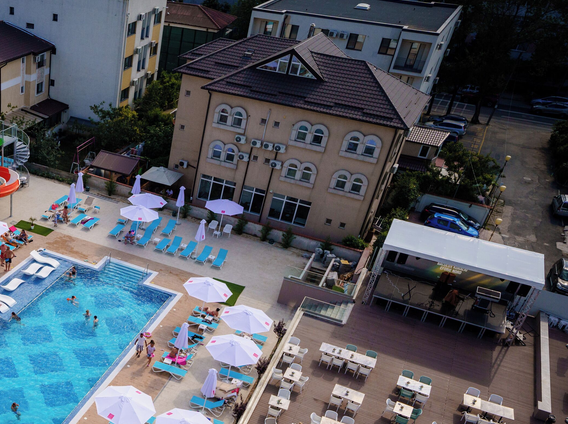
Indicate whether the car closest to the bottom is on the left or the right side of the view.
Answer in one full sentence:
The car closest to the bottom appears in the right half of the scene.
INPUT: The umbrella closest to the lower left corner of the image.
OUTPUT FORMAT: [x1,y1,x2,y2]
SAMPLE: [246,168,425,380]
[92,389,155,424]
